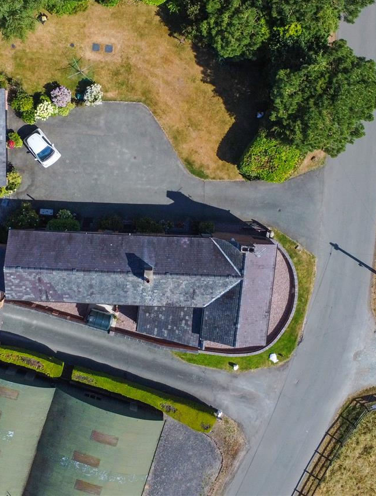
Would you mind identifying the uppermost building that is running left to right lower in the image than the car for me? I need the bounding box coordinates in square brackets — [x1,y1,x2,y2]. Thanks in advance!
[0,228,279,347]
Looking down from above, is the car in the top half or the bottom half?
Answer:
top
